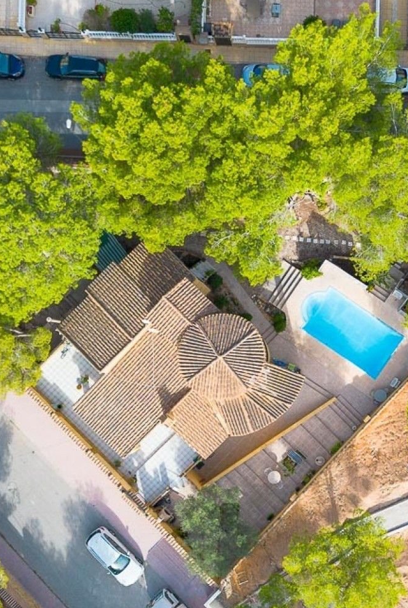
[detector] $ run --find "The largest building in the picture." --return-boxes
[46,244,305,461]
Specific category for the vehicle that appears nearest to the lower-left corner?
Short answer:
car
